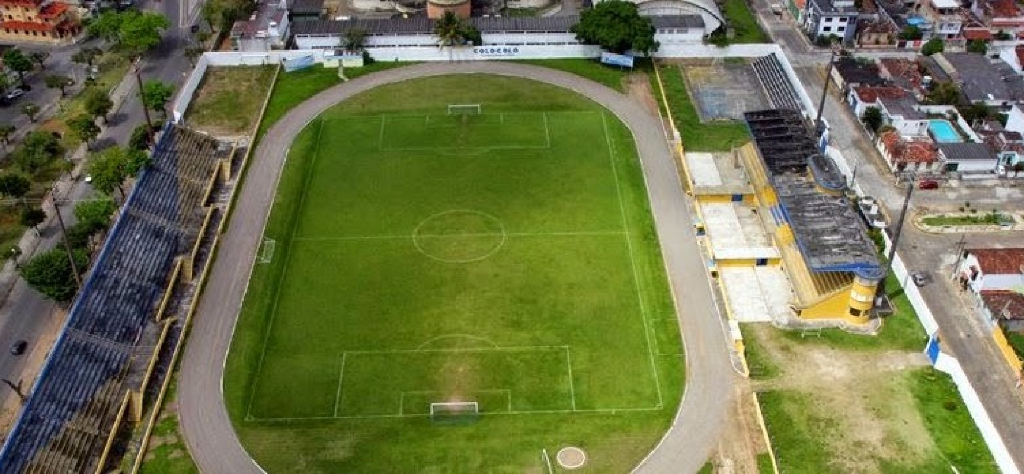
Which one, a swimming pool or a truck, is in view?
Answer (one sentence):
I can see a swimming pool in this picture.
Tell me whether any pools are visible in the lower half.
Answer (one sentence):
No, there is no pool in the lower half.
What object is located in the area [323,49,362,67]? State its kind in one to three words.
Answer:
shed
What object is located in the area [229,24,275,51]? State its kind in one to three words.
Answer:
building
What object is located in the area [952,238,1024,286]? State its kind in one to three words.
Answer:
house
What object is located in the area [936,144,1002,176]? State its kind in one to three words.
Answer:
house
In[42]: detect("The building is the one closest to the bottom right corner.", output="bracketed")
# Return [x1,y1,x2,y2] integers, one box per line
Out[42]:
[985,289,1024,329]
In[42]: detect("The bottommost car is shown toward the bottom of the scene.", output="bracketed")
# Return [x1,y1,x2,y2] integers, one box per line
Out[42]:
[8,339,28,357]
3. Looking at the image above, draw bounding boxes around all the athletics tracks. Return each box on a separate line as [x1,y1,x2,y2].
[182,62,736,474]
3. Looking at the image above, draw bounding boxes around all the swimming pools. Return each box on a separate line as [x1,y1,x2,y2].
[931,117,970,143]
